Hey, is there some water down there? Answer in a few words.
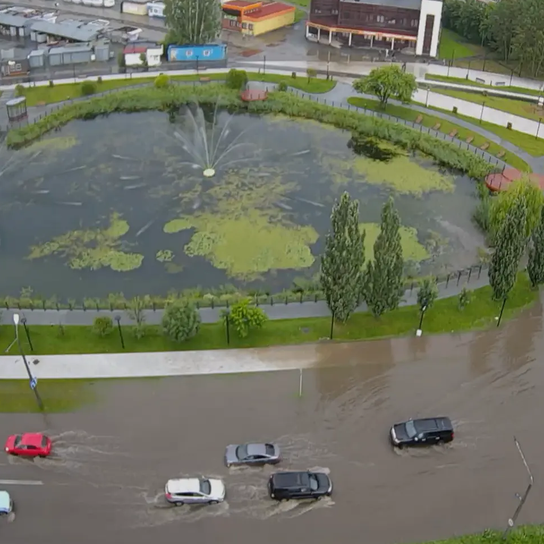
Yes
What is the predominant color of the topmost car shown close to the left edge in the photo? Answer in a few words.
red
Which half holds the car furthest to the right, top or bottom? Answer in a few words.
bottom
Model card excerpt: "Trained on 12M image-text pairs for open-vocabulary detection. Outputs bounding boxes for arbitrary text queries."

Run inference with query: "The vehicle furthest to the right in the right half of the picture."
[393,412,457,447]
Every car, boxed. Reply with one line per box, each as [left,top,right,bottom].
[1,434,54,459]
[393,412,457,447]
[270,469,330,499]
[165,476,224,506]
[0,492,17,520]
[225,442,280,468]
